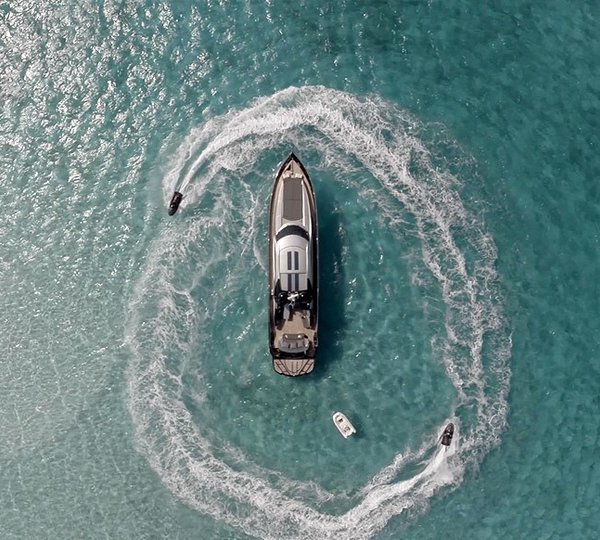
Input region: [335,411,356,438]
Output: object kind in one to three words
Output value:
boat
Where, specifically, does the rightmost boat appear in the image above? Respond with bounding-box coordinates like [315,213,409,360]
[441,422,454,445]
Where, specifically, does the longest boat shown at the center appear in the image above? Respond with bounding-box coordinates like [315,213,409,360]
[268,152,319,377]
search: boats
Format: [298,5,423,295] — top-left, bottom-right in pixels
[441,422,454,445]
[169,193,183,216]
[268,152,319,377]
[335,411,356,438]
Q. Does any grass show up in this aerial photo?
No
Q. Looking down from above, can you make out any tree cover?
No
